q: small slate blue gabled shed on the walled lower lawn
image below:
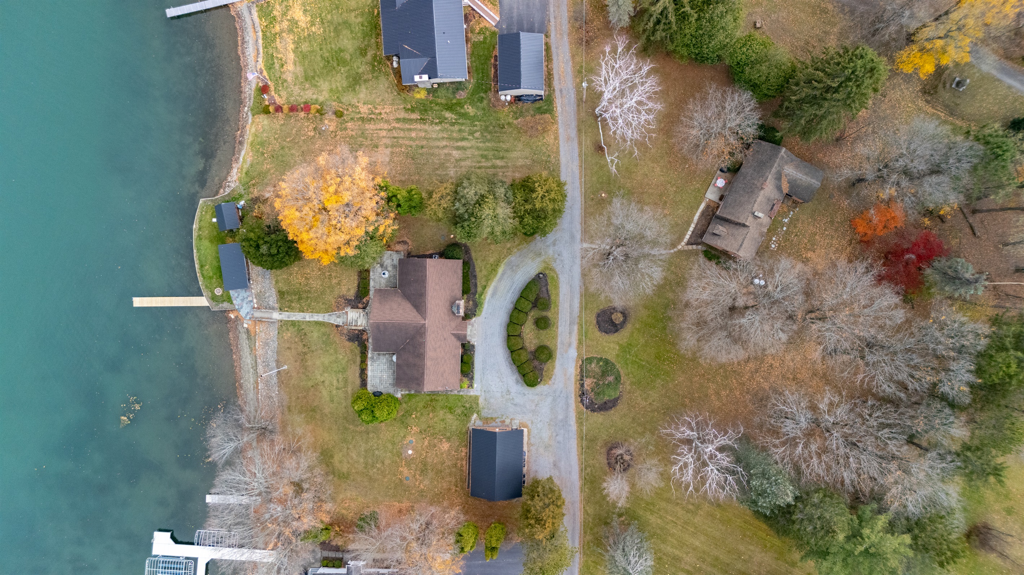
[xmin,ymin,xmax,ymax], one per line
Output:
[214,202,242,232]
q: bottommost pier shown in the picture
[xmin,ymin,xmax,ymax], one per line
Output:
[150,531,285,575]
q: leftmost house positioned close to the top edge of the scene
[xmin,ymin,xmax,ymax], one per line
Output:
[380,0,468,93]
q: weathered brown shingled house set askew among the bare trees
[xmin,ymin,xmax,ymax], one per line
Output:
[700,139,824,259]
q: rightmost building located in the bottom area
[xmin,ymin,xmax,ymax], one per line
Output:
[470,427,524,502]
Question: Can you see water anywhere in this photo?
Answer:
Yes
